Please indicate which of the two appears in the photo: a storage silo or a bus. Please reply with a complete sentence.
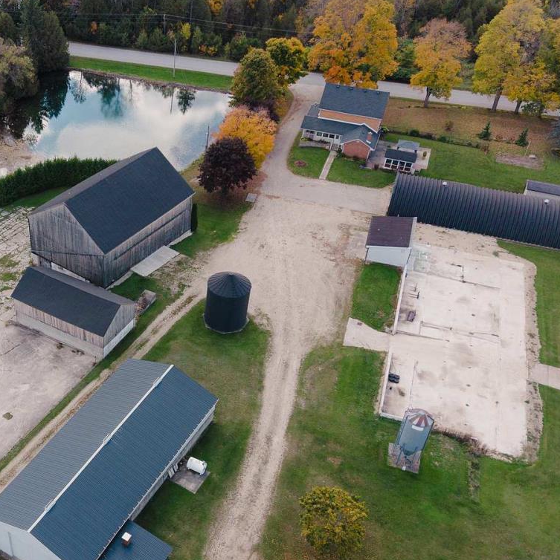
This aerial view contains a storage silo.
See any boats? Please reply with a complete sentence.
No, there appears to be no boat in this shot.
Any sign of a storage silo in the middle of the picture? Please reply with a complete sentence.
Yes, looking in the middle of the picture, one can make out a storage silo.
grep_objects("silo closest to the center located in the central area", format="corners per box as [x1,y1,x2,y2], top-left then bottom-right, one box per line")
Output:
[201,270,256,337]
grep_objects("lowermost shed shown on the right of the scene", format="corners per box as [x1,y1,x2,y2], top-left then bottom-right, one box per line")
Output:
[362,218,409,266]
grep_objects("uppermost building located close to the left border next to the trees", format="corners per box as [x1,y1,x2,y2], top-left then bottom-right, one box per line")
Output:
[26,145,198,292]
